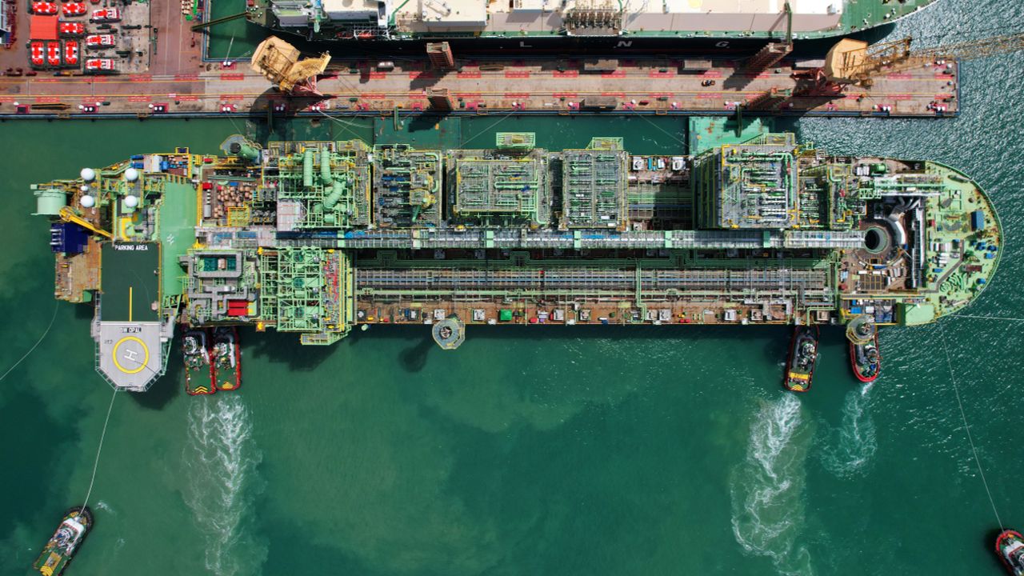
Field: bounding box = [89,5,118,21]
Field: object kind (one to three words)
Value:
boat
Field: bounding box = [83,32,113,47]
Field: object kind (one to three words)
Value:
boat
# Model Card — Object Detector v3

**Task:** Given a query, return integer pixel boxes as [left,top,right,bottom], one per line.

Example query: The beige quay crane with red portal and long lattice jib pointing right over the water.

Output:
[788,32,1024,99]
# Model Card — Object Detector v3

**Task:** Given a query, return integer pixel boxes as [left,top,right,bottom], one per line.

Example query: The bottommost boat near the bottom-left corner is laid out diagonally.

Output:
[29,506,95,576]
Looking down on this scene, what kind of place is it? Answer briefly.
port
